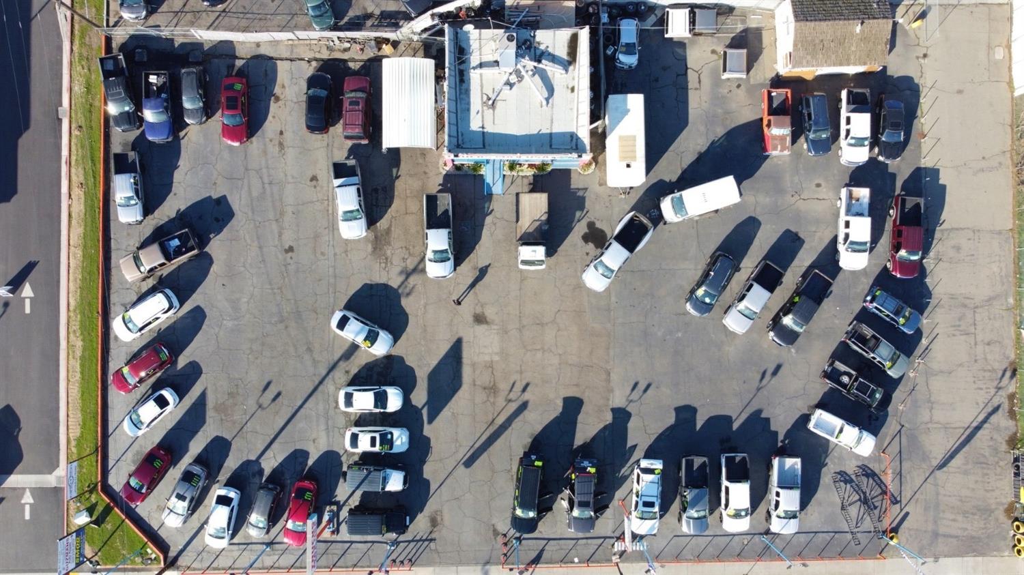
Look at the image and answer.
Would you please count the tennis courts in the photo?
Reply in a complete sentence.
The picture shows no tennis courts.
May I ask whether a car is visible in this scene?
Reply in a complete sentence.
Yes, a car can be made out from above.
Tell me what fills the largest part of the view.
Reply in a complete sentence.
Most of the picture is covered by paved ground.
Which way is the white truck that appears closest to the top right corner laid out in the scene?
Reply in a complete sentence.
In this picture, the white truck that appears closest to the top right corner lies up and down.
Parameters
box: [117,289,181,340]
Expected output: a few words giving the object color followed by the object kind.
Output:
white car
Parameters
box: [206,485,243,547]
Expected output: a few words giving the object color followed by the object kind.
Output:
white car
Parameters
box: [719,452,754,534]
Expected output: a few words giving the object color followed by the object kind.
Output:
white truck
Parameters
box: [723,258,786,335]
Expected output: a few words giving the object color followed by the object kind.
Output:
white truck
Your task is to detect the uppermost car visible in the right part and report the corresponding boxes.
[614,19,641,71]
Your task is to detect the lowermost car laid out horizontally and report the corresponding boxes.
[344,506,409,538]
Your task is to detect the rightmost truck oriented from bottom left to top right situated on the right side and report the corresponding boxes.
[771,268,837,347]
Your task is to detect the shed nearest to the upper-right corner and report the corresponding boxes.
[777,0,895,78]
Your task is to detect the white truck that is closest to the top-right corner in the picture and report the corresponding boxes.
[837,87,874,168]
